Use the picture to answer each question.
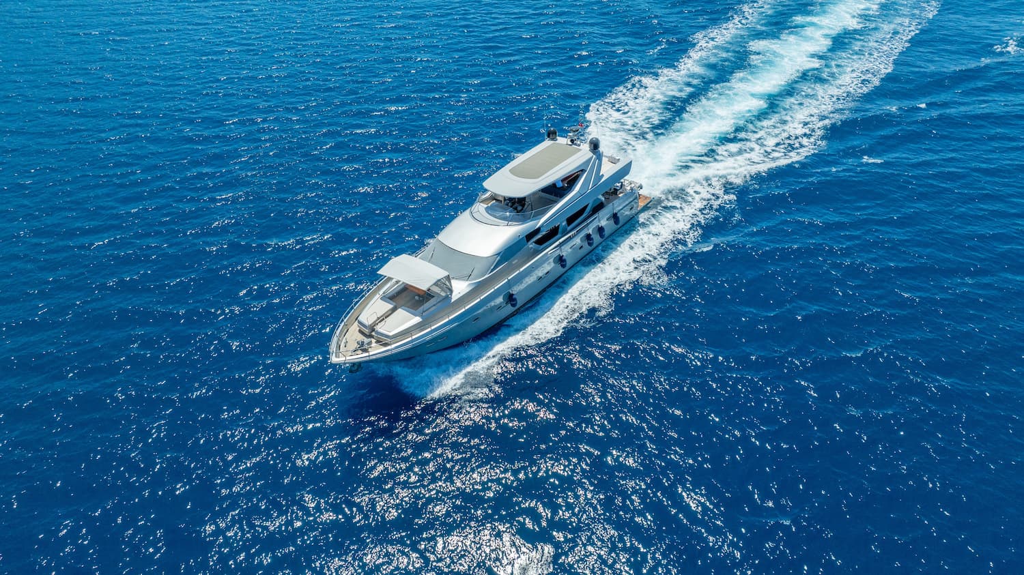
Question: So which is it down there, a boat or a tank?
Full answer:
Looking from above, you can make out a boat.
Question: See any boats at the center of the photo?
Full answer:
Yes, the scene does show a boat at the center of the photo.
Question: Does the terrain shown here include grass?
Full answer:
No, no grass is visible.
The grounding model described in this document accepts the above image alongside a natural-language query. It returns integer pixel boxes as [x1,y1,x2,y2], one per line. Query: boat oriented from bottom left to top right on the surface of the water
[328,119,650,378]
